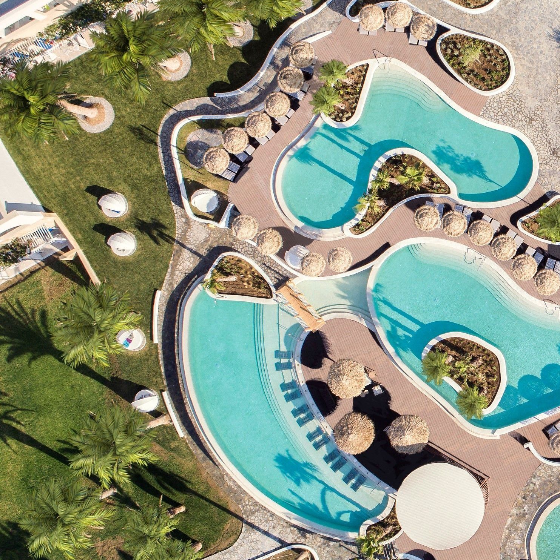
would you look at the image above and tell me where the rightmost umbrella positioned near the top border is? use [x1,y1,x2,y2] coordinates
[411,15,437,41]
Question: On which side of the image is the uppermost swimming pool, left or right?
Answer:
right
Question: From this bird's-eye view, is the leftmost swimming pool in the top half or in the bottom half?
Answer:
bottom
